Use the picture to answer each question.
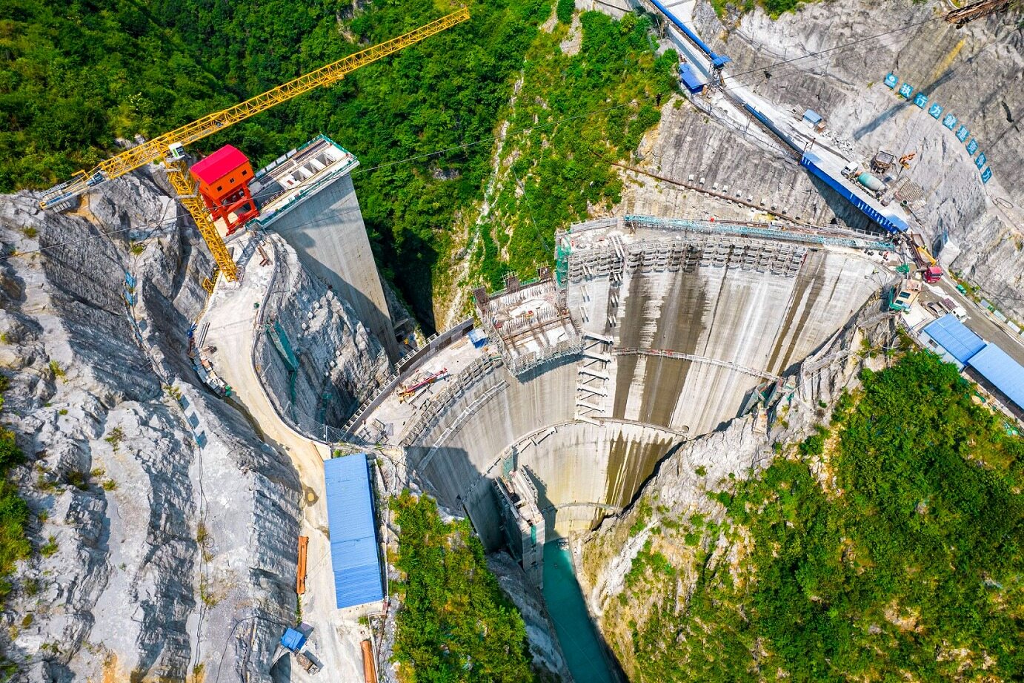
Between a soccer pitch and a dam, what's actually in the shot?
dam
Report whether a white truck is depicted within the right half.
Yes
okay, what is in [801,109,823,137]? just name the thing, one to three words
shed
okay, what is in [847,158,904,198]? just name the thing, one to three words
truck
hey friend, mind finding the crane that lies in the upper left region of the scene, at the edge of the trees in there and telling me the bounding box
[33,1,473,291]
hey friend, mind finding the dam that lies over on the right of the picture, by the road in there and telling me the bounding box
[329,199,990,560]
